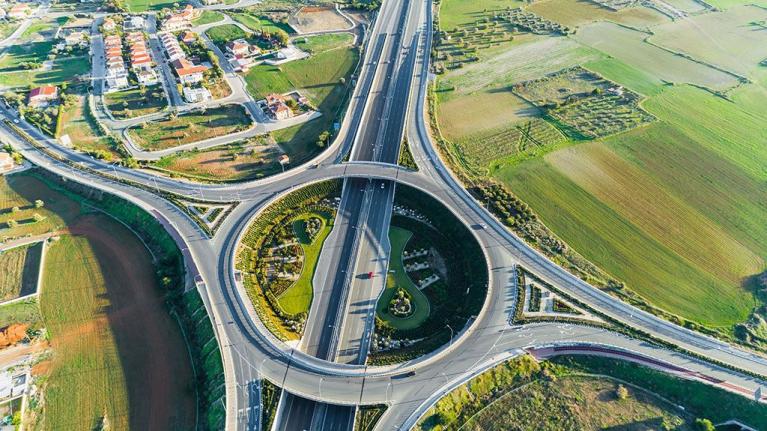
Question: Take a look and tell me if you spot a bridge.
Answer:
Yes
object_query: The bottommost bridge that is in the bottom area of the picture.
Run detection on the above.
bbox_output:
[264,346,369,406]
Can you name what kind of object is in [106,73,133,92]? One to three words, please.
house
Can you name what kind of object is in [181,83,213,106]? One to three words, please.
house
